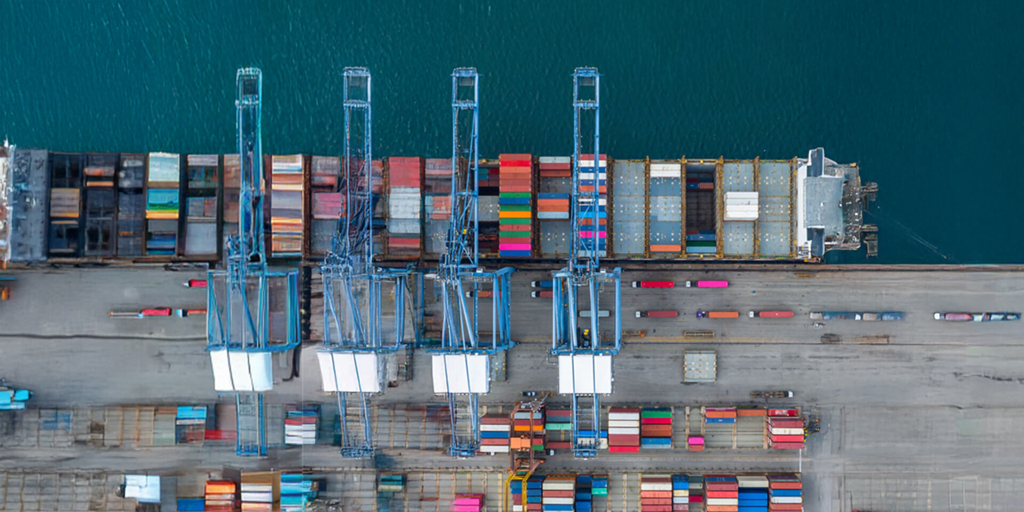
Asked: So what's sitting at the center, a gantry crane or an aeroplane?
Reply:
gantry crane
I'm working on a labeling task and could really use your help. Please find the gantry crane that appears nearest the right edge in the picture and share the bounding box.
[543,68,629,457]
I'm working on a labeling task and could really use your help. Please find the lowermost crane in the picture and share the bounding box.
[509,463,537,512]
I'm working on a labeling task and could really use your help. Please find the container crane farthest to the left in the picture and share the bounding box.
[199,67,324,455]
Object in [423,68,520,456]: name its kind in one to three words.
container crane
